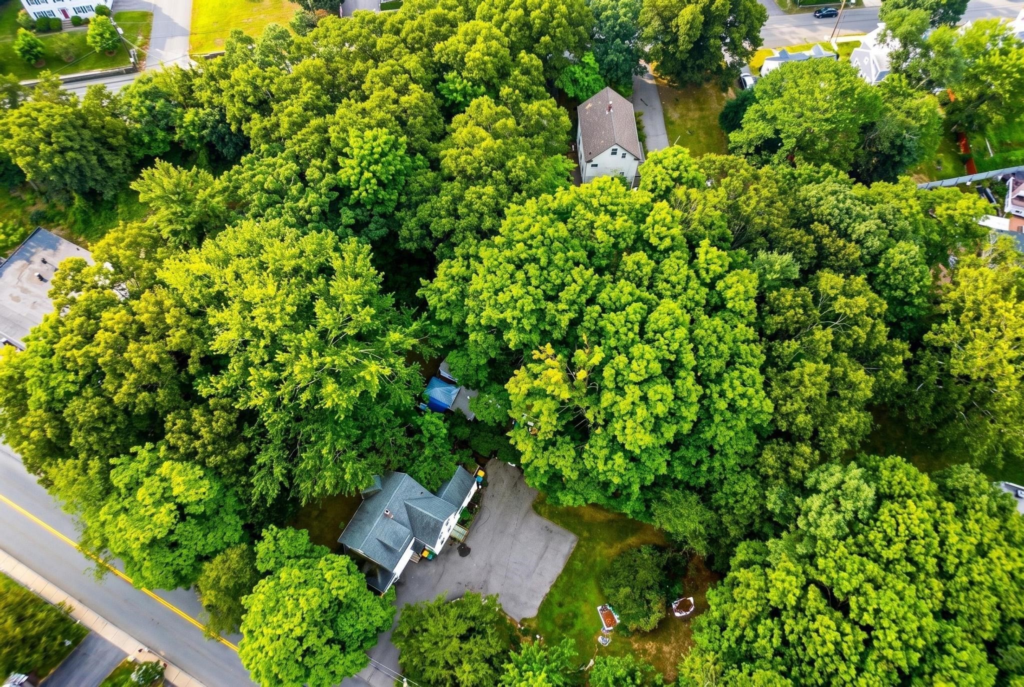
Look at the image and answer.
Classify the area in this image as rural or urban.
rural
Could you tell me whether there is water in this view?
No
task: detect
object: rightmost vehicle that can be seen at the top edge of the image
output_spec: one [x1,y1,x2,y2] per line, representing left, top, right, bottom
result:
[813,7,839,20]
